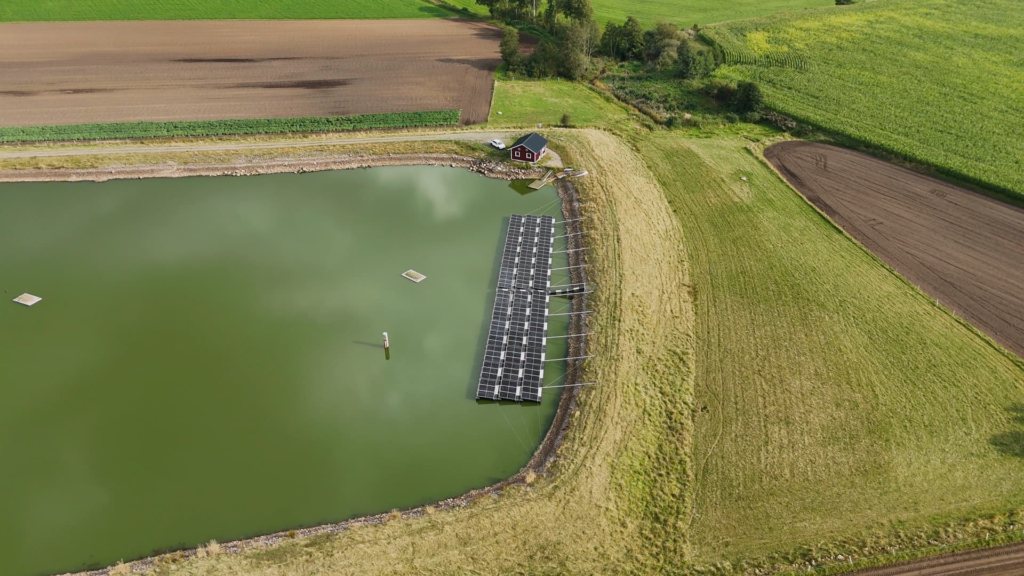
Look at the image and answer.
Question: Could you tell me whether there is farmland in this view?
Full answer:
Yes, there's farmland in this view.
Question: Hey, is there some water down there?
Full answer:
Yes, water shows up in the scene.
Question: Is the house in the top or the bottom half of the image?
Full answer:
The top half of the photo is where the house is.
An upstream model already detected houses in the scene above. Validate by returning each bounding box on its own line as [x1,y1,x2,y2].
[509,135,543,163]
